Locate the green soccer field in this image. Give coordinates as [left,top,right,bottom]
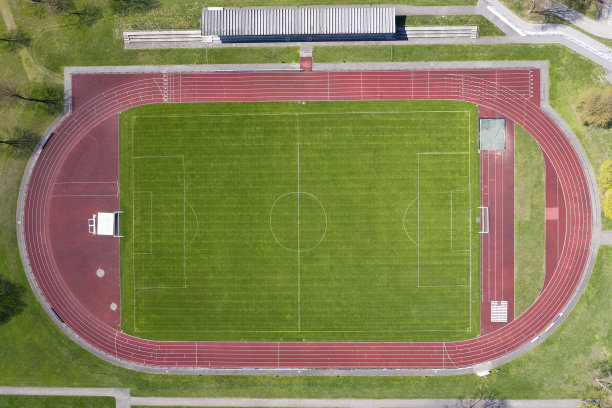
[119,100,481,342]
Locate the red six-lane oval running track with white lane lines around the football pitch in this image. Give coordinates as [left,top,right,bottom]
[23,57,592,367]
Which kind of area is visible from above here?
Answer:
sports ground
